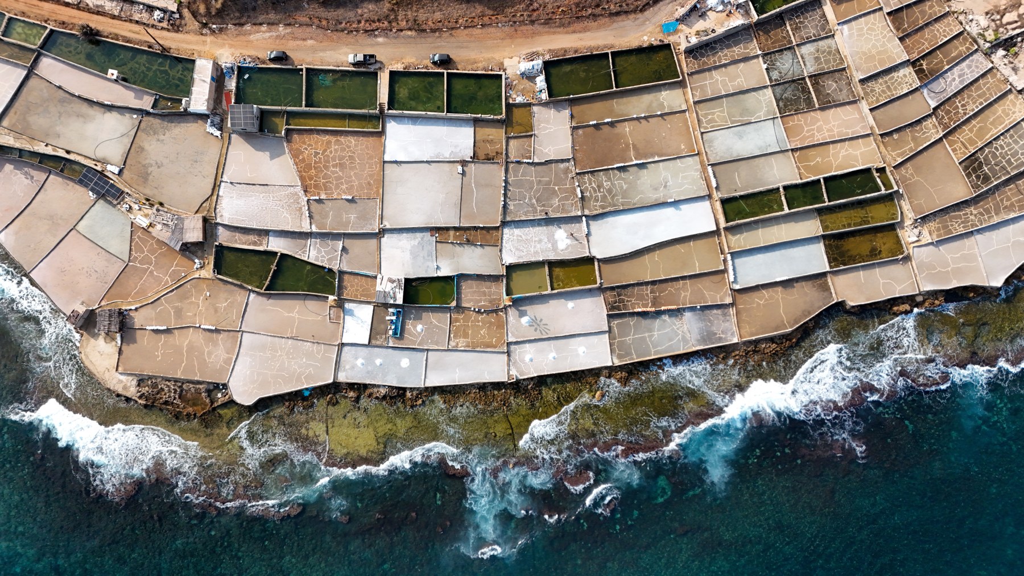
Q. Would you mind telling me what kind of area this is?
industrial area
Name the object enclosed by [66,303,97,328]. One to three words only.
shed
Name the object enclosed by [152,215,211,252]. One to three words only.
shed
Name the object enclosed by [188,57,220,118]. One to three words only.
building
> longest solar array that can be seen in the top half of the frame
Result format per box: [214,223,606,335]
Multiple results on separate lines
[77,167,126,200]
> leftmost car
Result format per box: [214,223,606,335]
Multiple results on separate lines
[265,47,288,61]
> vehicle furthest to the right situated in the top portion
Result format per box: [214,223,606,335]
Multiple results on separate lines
[427,50,451,64]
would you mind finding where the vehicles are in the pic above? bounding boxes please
[346,50,378,65]
[265,47,288,61]
[427,50,451,64]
